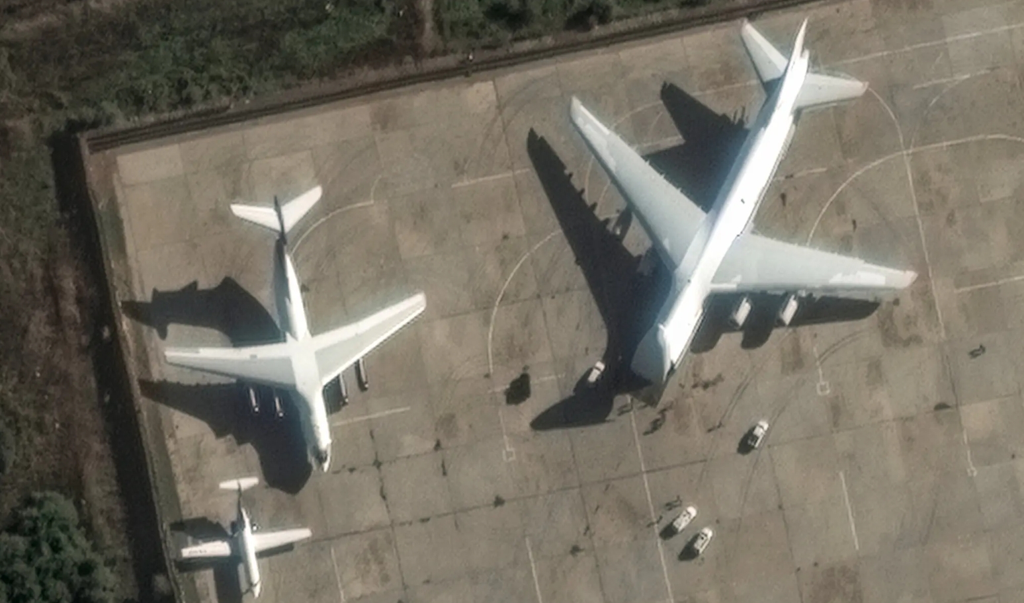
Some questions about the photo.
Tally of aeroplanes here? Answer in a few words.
3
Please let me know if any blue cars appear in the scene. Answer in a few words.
No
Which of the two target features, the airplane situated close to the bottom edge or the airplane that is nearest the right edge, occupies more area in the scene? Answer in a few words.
the airplane that is nearest the right edge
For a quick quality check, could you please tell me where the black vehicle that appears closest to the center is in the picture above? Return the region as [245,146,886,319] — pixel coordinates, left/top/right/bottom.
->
[516,372,530,402]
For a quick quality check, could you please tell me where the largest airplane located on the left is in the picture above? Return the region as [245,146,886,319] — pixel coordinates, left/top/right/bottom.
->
[164,184,425,470]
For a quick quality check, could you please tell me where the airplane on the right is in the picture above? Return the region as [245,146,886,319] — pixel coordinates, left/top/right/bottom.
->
[568,16,917,407]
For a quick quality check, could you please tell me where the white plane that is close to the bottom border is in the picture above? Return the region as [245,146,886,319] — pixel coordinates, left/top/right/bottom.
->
[184,478,313,597]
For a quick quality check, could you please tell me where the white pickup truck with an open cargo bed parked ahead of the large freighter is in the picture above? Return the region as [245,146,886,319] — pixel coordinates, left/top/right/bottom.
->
[749,419,770,450]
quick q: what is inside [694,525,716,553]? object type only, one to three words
car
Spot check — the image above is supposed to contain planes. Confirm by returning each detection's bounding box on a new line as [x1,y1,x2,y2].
[184,478,313,597]
[568,16,917,407]
[164,184,425,470]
